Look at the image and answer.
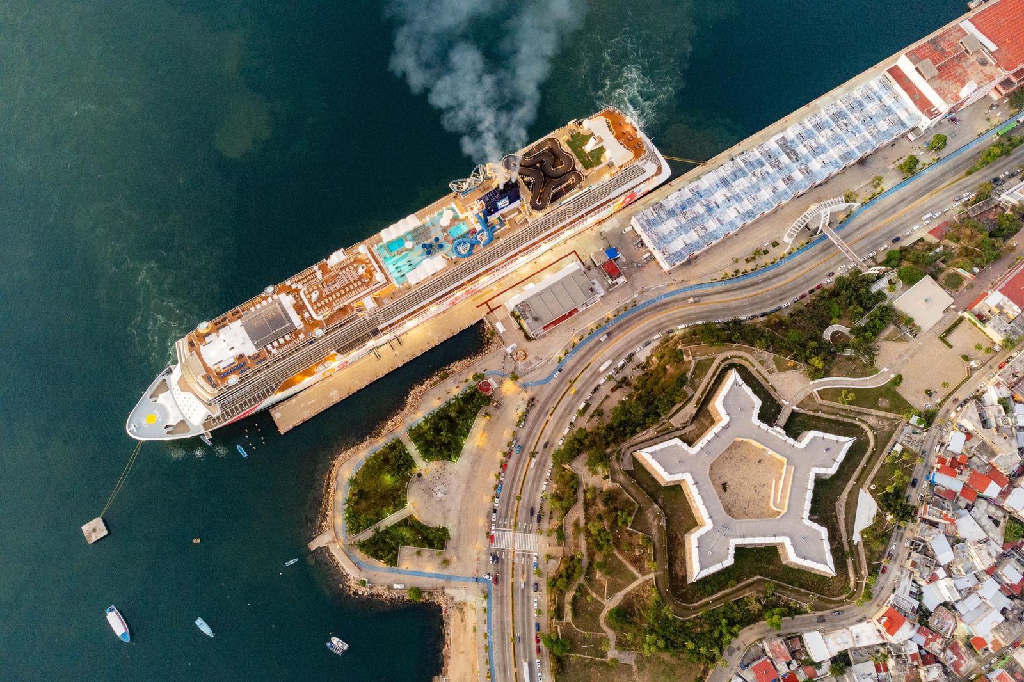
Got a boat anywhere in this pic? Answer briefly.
Yes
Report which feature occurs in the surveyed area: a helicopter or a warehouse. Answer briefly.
warehouse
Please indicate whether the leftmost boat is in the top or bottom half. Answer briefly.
bottom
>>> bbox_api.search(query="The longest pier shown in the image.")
[269,291,484,435]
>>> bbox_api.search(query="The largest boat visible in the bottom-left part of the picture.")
[105,605,128,642]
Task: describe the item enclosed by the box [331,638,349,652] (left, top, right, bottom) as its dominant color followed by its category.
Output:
white boat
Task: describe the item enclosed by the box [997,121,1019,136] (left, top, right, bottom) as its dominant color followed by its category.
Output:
green vehicle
